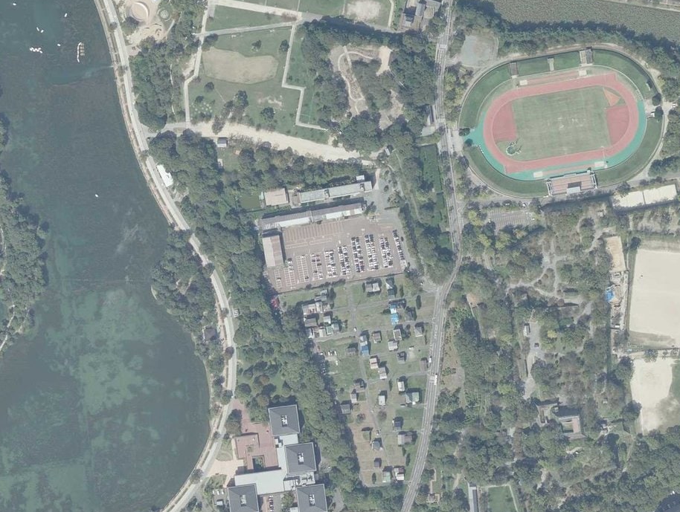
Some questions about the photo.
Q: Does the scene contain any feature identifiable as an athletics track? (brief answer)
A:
Yes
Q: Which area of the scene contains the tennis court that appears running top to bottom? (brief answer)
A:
right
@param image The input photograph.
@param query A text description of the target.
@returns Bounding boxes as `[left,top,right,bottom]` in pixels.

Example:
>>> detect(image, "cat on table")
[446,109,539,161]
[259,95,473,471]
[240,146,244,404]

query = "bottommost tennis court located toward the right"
[606,236,626,270]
